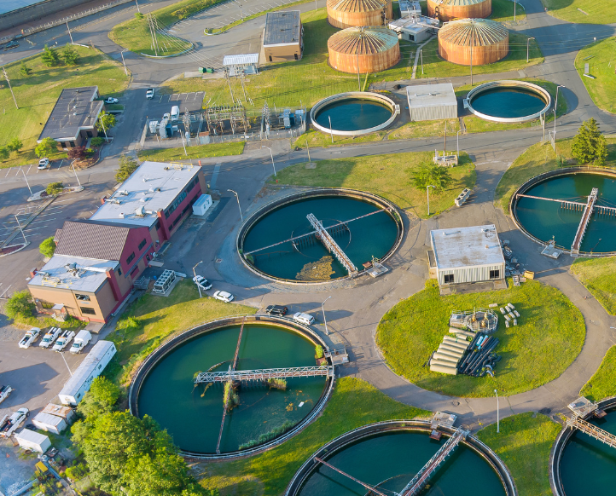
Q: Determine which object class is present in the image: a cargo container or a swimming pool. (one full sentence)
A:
This aerial view contains a cargo container.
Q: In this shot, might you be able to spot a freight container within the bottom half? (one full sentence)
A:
Yes, I can see a freight container within the bottom half.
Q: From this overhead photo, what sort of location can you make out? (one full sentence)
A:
This looks like an industrial area.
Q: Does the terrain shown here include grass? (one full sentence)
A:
Yes, grass shows up in the scene.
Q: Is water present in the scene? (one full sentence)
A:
Yes, there's water in this view.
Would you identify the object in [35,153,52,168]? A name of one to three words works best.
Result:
car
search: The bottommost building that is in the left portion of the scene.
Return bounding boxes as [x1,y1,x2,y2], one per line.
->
[23,159,208,327]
